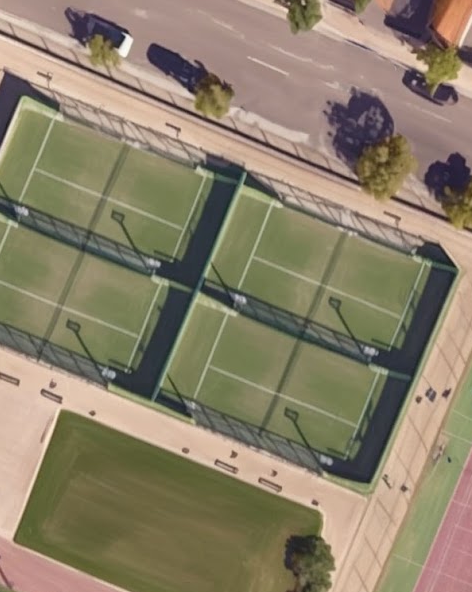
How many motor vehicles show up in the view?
3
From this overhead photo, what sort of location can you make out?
sports ground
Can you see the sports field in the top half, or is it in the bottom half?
bottom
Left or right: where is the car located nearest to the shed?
right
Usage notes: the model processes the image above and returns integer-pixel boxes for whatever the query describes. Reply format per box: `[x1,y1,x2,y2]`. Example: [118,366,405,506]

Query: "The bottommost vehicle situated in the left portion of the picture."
[145,47,203,88]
